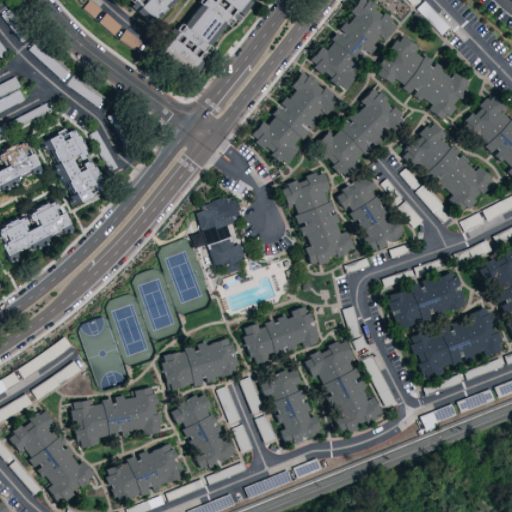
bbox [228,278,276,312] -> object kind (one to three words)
swimming pool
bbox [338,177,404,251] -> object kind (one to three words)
building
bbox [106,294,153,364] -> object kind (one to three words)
tennis court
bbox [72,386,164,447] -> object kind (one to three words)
building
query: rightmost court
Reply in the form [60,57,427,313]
[158,240,209,314]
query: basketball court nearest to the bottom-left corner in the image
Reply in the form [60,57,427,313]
[78,316,126,390]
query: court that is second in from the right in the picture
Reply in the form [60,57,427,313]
[132,270,182,340]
